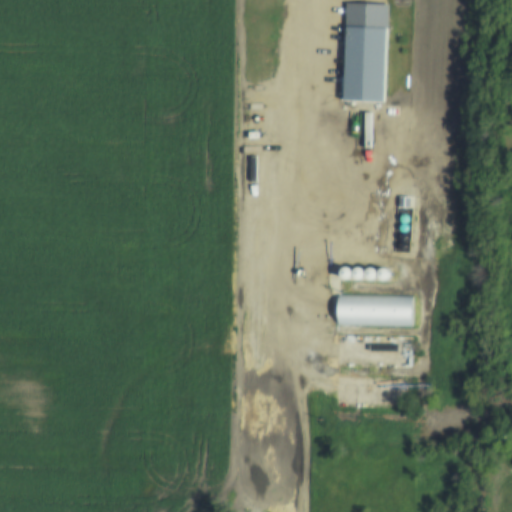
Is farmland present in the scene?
Yes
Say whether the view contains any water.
No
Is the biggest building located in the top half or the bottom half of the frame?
top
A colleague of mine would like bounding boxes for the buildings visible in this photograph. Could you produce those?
[339,296,416,328]
[344,2,392,104]
[402,196,414,209]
